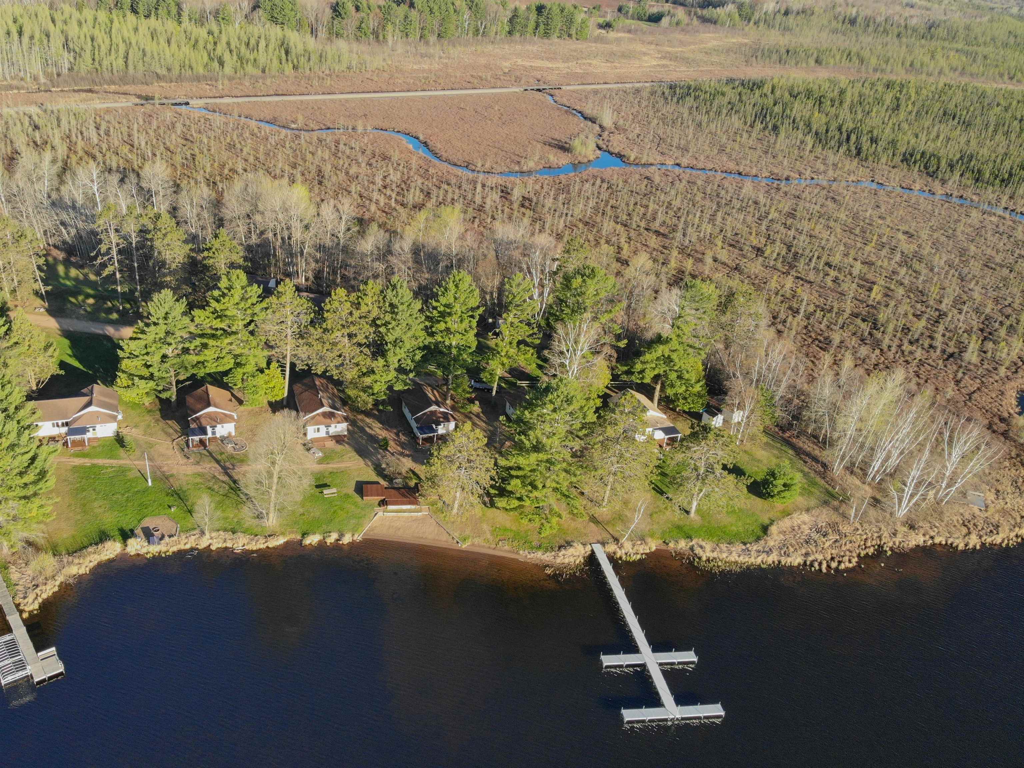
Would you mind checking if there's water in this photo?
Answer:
Yes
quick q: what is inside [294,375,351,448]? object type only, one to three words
building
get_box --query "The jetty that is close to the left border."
[0,588,64,685]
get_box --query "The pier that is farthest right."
[592,544,728,721]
